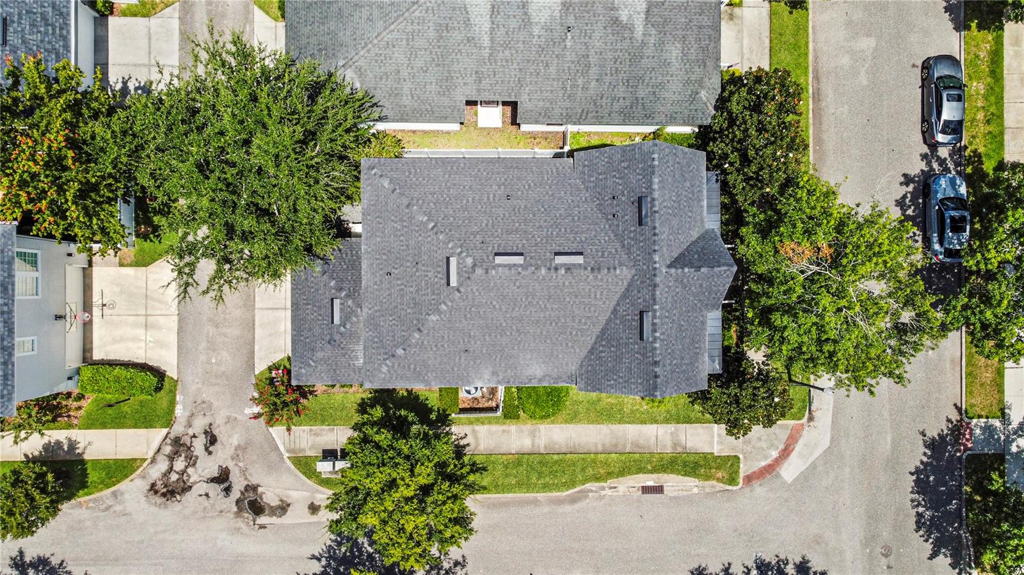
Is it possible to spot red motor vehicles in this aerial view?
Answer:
No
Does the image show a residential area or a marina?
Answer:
residential area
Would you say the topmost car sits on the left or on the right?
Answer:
right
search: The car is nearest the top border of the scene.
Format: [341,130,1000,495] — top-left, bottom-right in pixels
[921,56,971,147]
